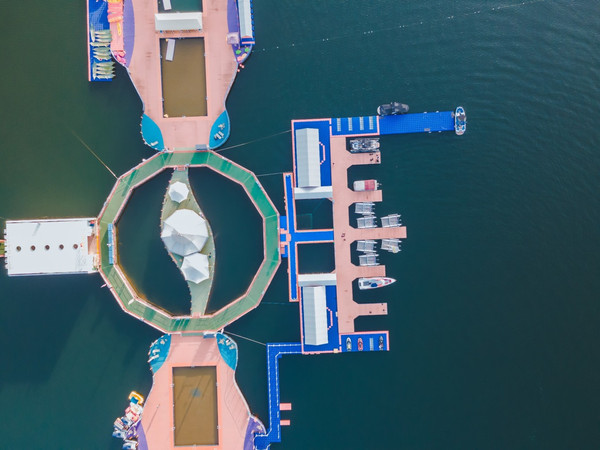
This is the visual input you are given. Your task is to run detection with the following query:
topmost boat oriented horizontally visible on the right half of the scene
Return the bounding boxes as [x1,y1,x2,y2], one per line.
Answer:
[375,101,409,115]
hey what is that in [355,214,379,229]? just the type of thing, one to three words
boat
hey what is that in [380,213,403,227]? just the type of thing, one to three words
boat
